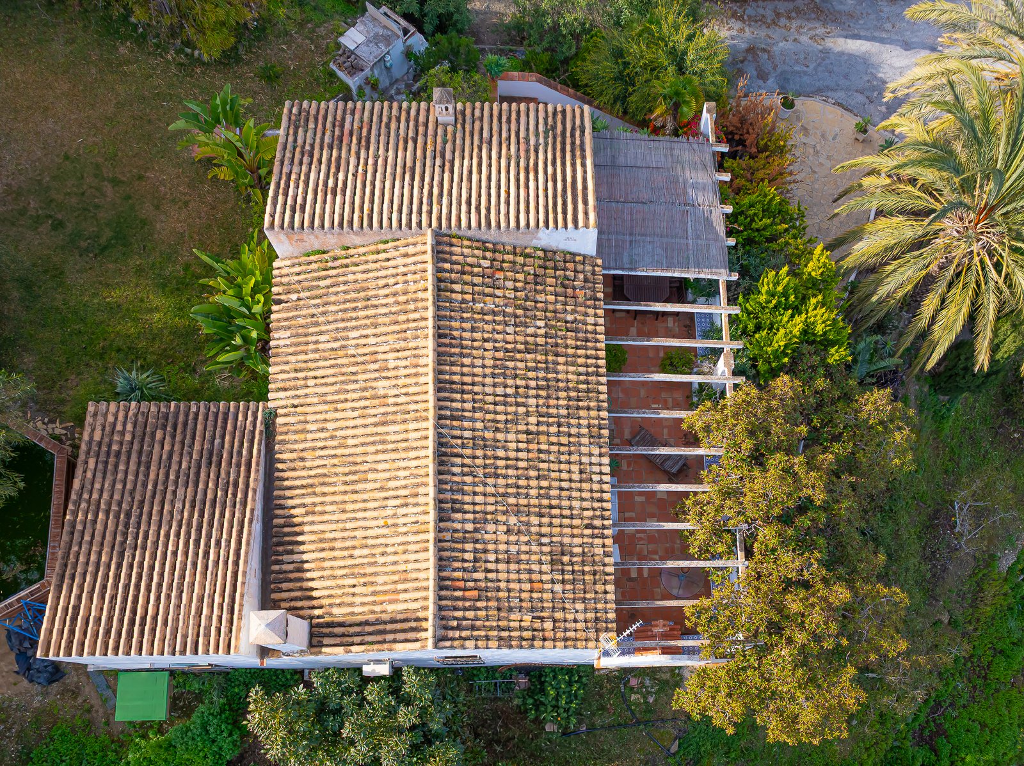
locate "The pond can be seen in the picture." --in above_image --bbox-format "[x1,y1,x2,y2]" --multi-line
[0,419,78,623]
